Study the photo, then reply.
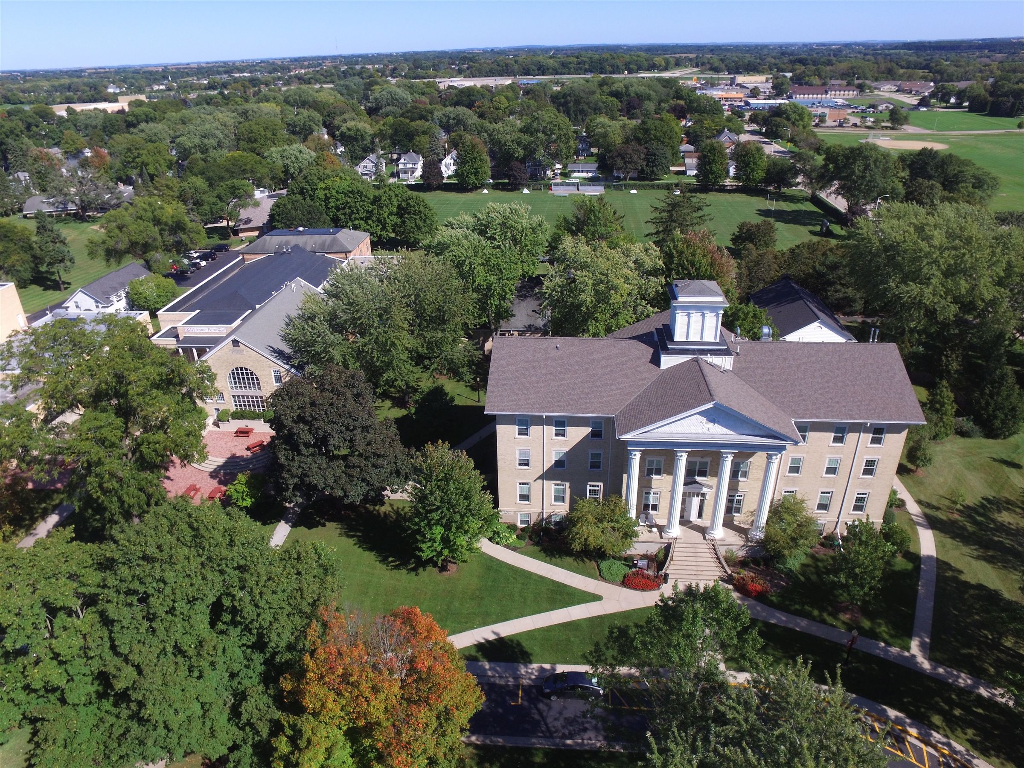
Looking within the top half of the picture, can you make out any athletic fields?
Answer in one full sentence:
Yes, I can see an athletic field within the top half of the picture.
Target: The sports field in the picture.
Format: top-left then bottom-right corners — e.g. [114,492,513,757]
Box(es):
[346,193,883,281]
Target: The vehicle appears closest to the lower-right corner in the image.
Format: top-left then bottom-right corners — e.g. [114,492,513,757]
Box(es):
[540,667,604,702]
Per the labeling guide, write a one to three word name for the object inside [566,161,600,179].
house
